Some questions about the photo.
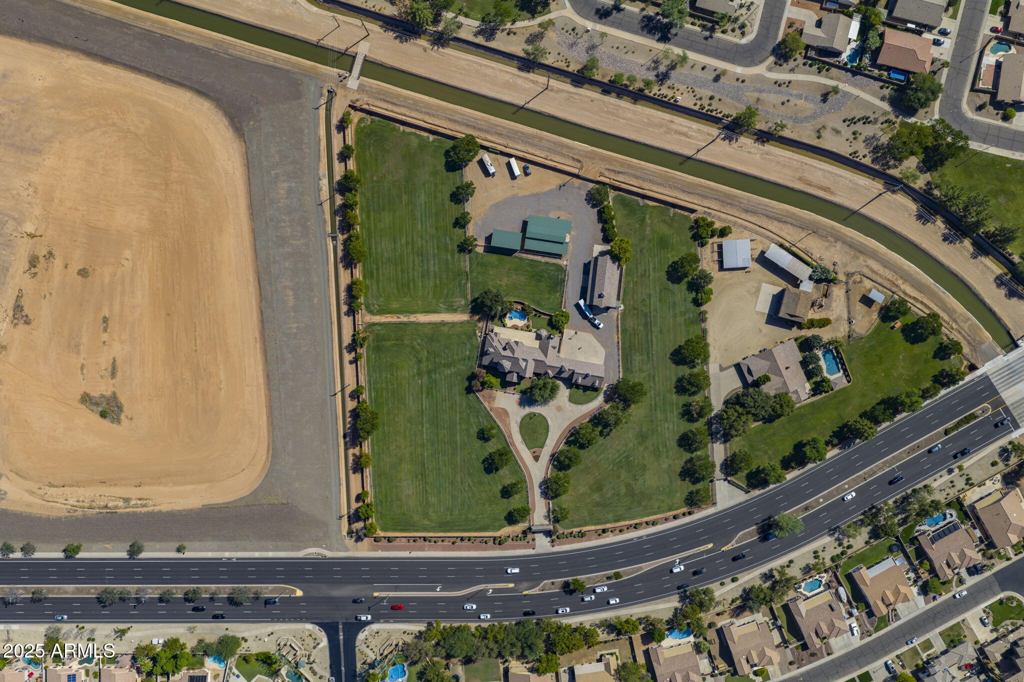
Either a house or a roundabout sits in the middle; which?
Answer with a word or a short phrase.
house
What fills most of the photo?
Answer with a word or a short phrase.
paved ground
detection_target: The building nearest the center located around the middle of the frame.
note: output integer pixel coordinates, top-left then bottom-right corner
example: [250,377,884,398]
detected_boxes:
[481,329,605,386]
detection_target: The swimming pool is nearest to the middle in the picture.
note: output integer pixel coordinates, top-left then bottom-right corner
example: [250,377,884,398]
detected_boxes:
[507,309,527,322]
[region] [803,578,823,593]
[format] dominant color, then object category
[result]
blue swimming pool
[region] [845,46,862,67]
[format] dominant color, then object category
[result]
blue swimming pool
